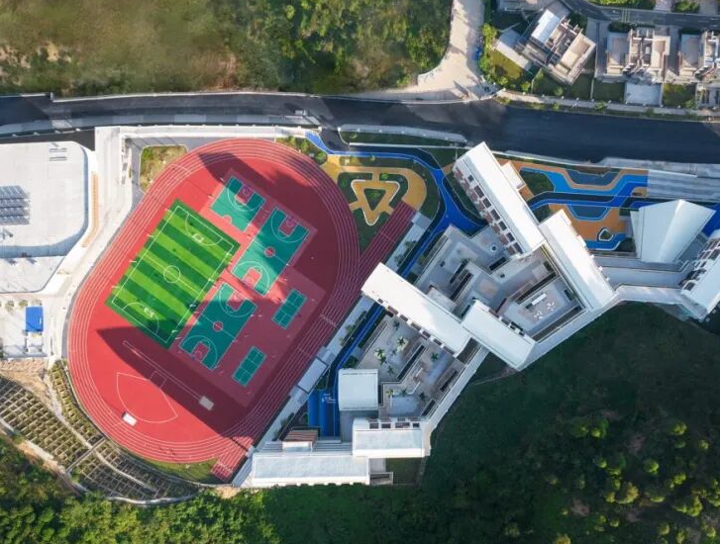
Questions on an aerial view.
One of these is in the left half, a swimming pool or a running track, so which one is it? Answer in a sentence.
Looking in the left half, you will find a running track.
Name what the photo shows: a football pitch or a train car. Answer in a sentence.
I can see a football pitch in this picture.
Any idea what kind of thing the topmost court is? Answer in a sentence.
In the photo, the topmost court shows up as a basketball court.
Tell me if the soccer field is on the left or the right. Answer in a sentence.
The soccer field is on the left side of the image.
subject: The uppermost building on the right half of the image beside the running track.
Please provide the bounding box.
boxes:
[451,141,545,254]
